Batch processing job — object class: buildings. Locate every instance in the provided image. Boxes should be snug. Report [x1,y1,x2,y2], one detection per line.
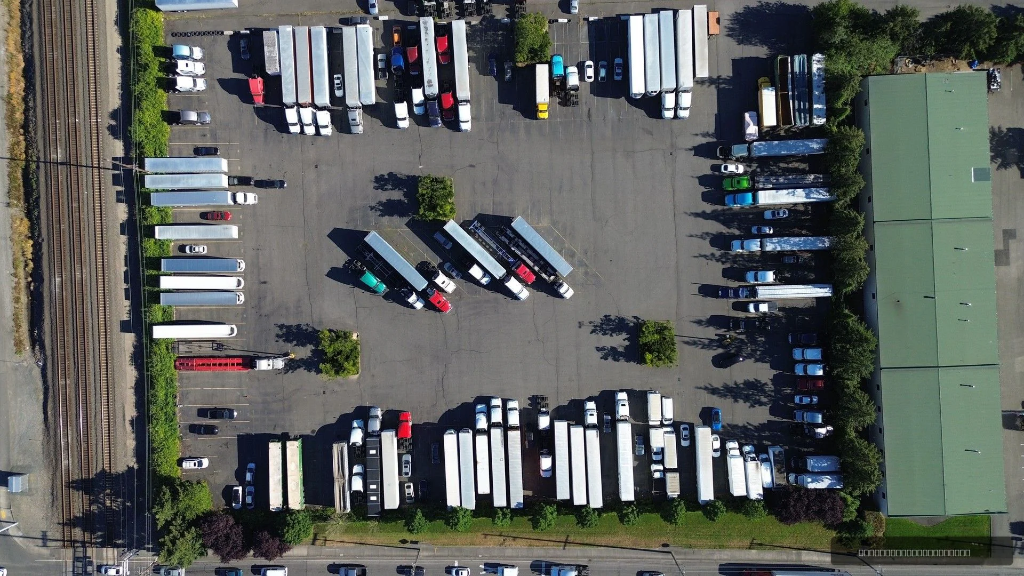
[2,475,27,497]
[857,71,1009,518]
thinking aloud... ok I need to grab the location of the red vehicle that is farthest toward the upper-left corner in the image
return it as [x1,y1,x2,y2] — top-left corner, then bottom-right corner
[249,69,268,106]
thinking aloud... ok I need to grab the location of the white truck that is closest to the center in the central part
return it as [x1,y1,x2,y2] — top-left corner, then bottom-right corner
[492,274,529,302]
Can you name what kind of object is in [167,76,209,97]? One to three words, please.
truck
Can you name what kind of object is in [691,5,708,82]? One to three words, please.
trailer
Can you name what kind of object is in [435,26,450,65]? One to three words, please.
vehicle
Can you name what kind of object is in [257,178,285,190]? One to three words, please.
vehicle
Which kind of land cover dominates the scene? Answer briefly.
paved ground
